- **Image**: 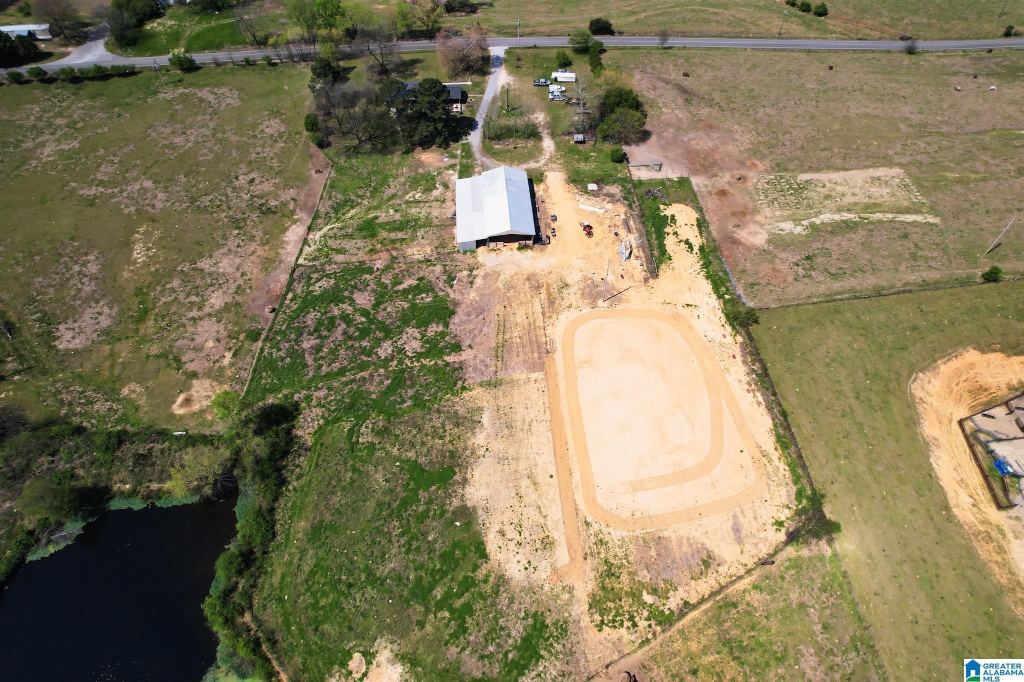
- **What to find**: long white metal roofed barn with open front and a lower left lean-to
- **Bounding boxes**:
[452,163,535,251]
